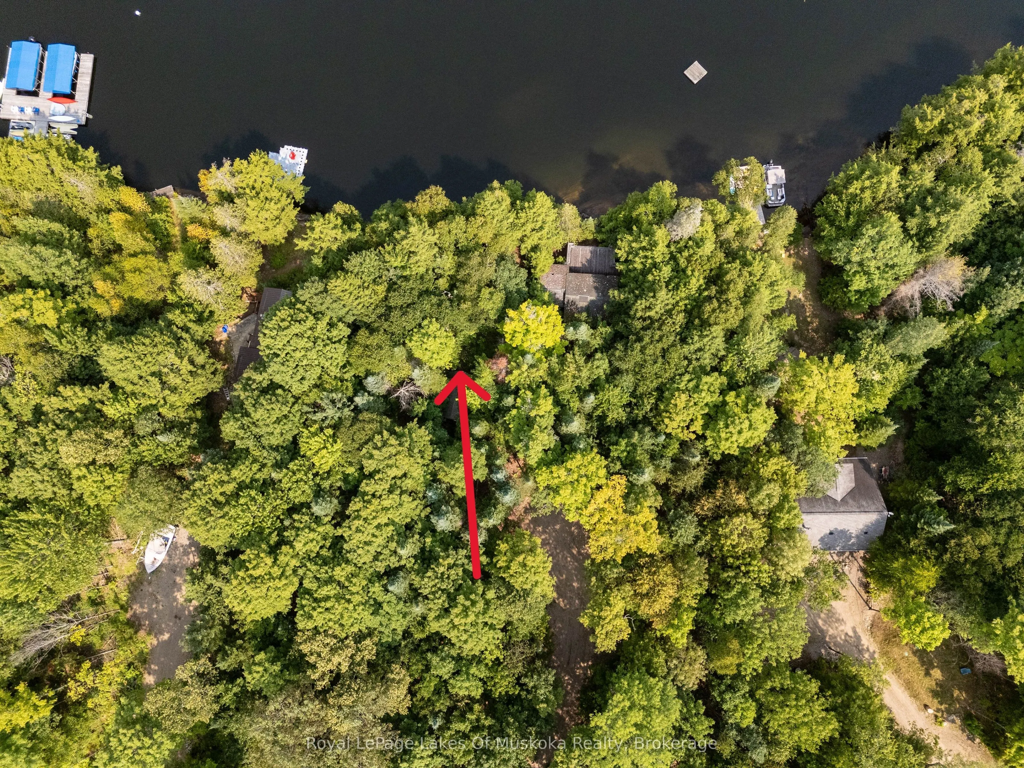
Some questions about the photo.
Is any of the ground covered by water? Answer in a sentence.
Yes, there's water in this view.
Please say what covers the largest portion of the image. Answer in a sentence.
What you mostly see from above here is trees.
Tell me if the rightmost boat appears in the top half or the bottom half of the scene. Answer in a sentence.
The rightmost boat sits in the top half of the picture.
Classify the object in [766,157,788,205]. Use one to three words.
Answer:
boat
